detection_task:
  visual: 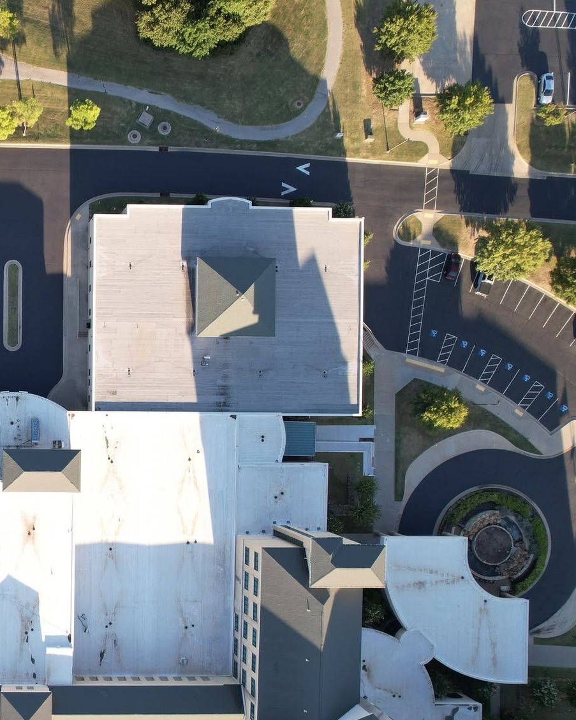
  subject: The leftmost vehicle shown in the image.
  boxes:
[442,252,461,282]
